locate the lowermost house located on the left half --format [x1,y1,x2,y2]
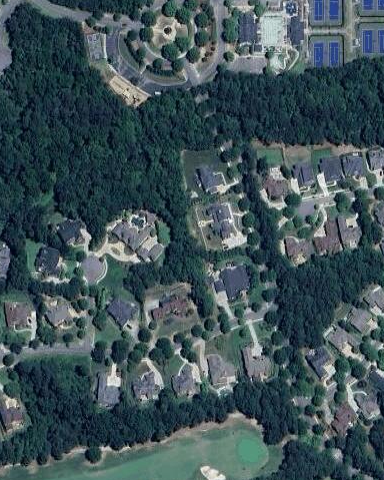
[0,398,25,432]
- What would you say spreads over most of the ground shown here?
trees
